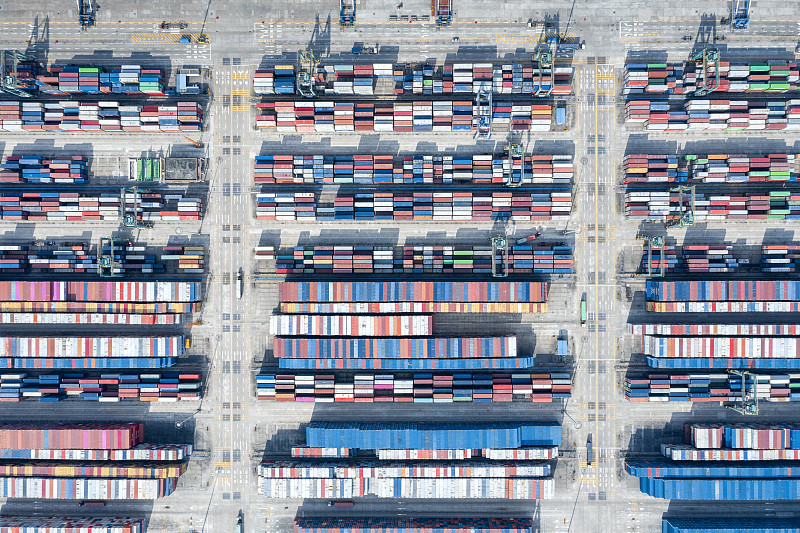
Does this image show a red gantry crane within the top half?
No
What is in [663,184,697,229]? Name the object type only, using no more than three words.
container crane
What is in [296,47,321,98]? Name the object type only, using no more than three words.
container crane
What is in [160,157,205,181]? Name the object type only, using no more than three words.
shed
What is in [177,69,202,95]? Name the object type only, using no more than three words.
building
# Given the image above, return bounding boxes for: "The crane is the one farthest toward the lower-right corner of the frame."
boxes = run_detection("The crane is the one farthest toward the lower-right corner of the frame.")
[722,368,759,417]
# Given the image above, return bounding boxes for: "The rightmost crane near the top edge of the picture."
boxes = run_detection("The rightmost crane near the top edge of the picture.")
[728,0,751,35]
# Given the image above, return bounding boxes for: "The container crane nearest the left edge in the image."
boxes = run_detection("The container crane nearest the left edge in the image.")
[0,47,40,98]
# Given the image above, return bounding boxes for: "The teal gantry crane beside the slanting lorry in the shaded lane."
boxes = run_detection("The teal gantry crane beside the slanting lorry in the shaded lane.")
[485,234,509,279]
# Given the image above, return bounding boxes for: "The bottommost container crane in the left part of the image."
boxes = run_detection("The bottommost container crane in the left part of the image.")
[97,234,132,279]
